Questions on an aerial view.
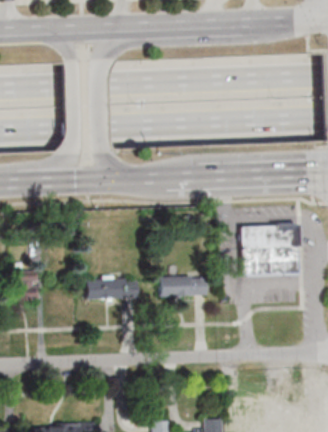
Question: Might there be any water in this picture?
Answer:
No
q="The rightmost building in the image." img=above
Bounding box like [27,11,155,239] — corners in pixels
[242,224,300,278]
